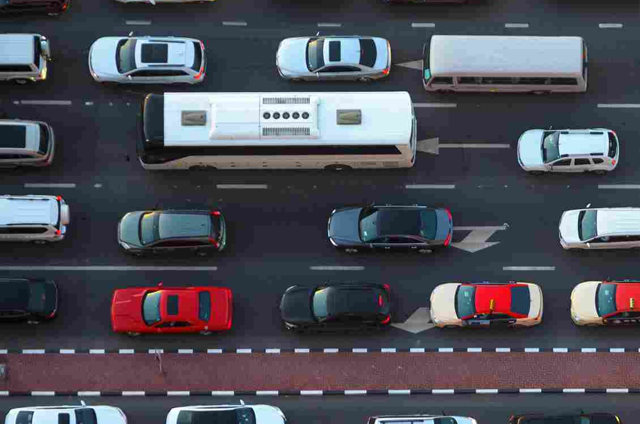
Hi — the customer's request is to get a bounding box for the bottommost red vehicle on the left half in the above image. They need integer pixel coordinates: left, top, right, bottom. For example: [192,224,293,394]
[110,280,232,337]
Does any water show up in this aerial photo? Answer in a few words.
No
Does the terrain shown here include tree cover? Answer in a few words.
No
